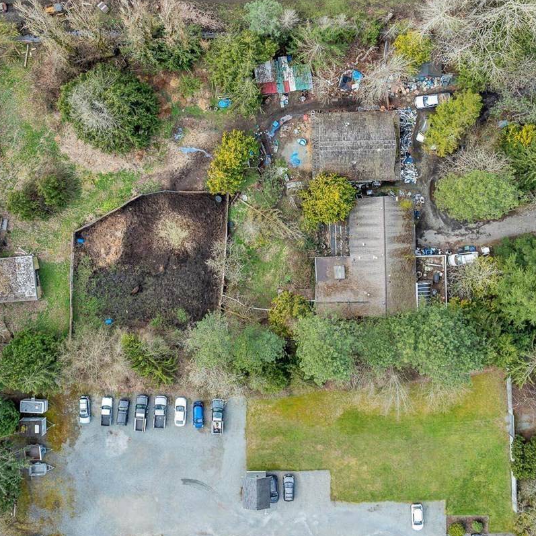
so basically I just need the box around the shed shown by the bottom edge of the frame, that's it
[242,471,270,514]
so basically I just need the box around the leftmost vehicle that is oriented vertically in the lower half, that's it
[78,394,91,424]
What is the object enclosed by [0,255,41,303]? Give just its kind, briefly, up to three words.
shed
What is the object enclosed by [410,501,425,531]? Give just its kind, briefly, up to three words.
car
